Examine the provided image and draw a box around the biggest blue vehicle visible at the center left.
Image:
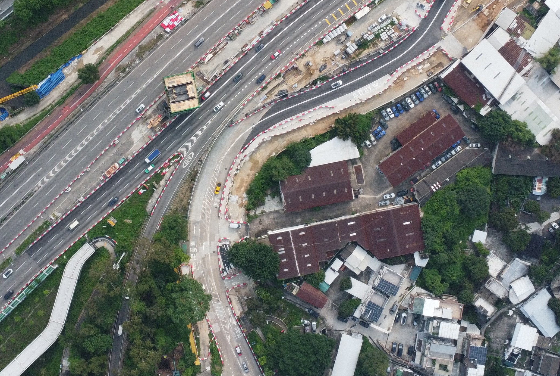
[144,149,160,164]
